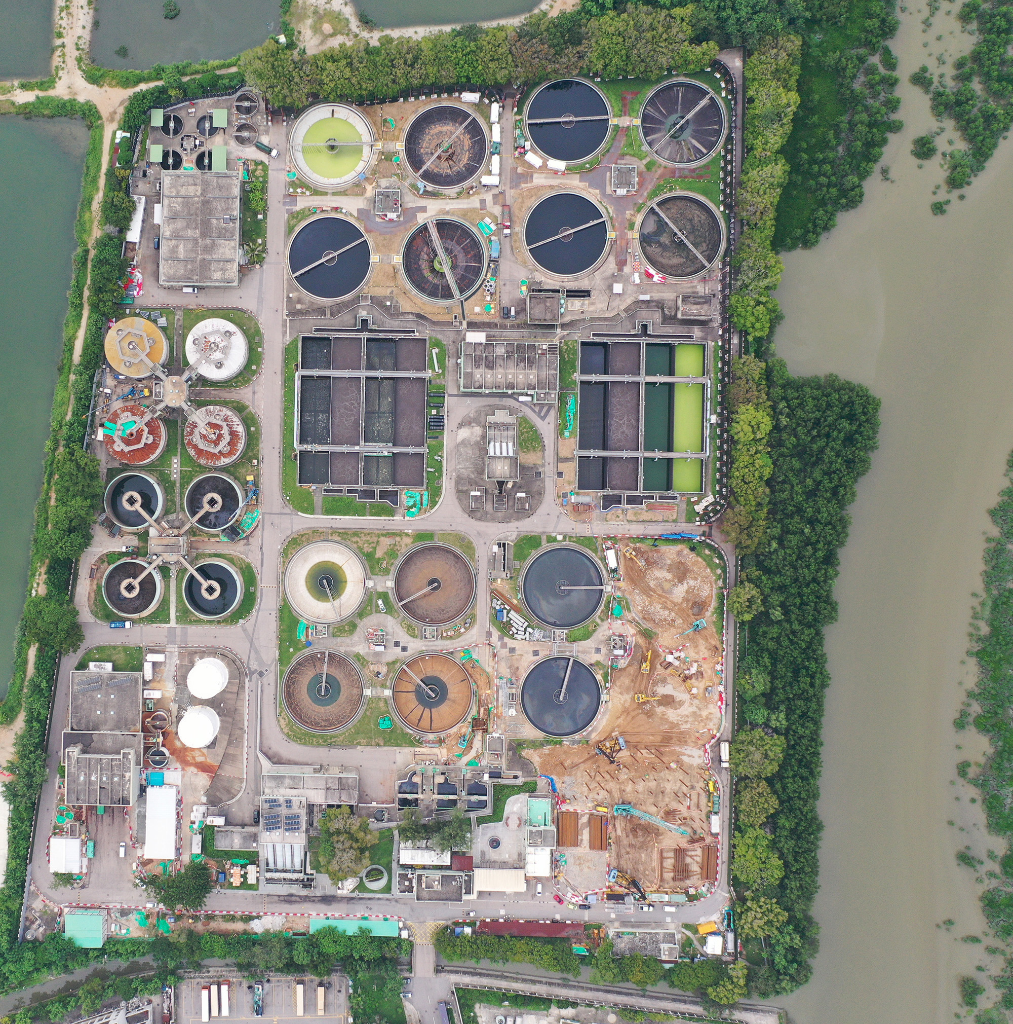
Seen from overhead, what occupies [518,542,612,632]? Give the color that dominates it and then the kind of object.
gray storage tank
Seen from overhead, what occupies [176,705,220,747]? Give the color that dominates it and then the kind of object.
white storage tank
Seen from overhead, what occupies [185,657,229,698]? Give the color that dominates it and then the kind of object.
white storage tank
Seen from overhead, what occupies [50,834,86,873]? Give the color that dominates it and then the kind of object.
white tent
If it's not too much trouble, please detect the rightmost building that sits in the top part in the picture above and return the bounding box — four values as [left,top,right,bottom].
[678,295,713,321]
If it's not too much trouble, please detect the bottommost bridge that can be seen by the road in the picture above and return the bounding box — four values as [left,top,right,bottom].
[413,942,437,977]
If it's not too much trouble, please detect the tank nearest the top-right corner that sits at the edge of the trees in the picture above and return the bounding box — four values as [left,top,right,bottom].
[632,78,728,171]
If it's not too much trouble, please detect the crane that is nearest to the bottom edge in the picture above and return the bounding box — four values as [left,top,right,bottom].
[609,865,652,906]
